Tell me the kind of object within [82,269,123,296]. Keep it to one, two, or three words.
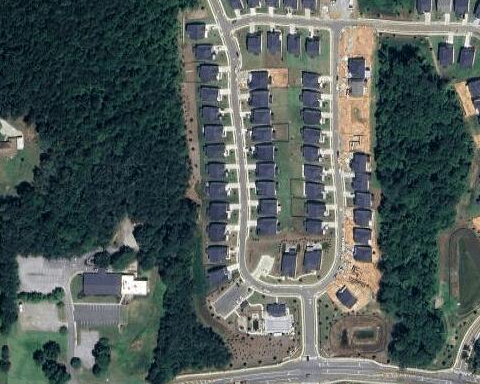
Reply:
building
